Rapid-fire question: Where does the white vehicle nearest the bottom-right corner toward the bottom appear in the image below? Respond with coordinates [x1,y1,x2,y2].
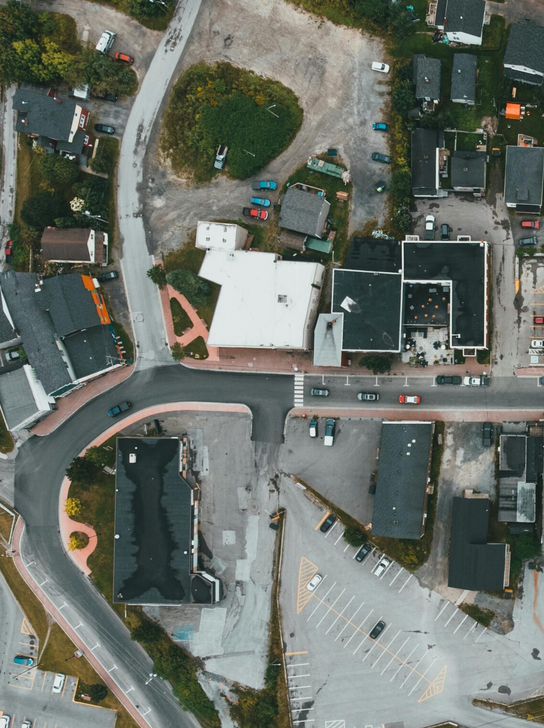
[374,558,390,578]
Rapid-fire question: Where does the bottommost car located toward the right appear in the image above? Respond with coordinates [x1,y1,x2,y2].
[369,620,386,640]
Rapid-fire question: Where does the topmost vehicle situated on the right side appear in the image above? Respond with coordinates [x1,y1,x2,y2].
[369,60,390,73]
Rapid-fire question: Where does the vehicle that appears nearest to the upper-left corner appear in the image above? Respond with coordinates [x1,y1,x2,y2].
[92,27,114,55]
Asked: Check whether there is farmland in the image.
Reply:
No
